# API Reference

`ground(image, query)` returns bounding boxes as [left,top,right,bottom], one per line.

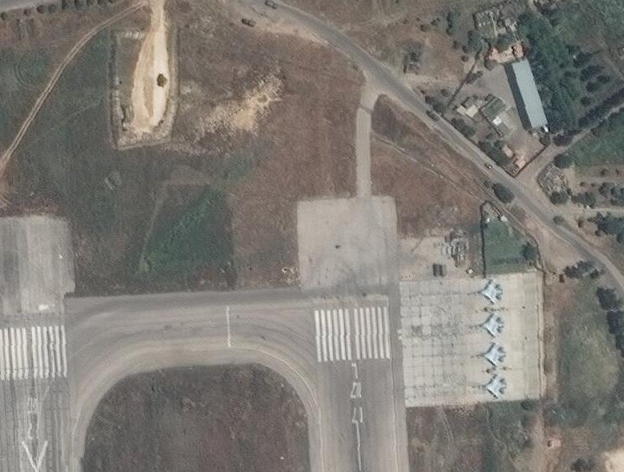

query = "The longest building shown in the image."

[513,60,547,128]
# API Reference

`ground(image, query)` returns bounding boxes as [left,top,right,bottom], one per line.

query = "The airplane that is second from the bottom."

[473,343,506,366]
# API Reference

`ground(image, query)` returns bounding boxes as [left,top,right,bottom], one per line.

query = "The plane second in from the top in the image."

[472,315,504,337]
